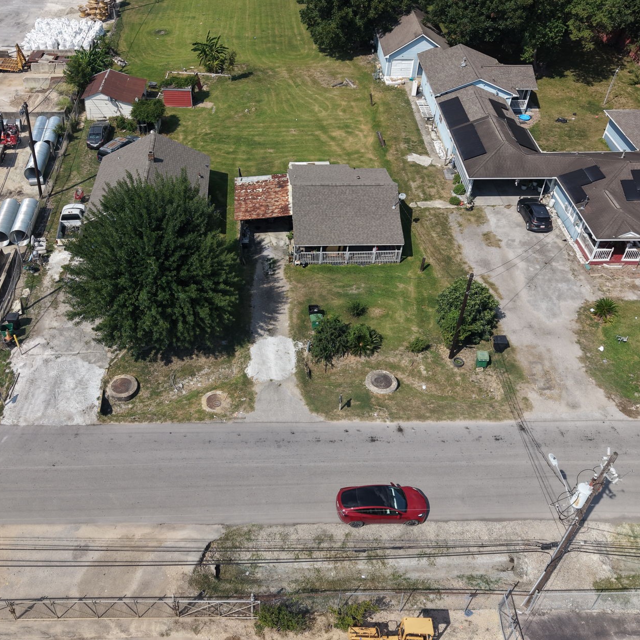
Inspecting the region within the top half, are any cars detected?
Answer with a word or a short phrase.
Yes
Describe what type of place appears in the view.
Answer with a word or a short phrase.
residential area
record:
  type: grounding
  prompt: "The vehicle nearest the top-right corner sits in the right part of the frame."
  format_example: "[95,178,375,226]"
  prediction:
[514,198,554,232]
